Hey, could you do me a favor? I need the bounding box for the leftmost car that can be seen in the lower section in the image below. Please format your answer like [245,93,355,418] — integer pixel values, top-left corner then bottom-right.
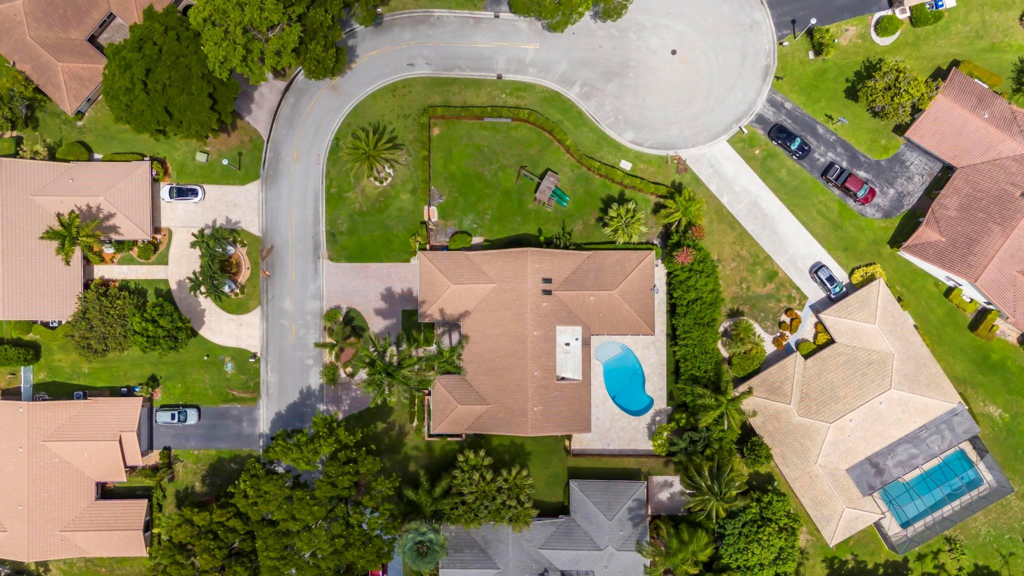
[153,405,200,427]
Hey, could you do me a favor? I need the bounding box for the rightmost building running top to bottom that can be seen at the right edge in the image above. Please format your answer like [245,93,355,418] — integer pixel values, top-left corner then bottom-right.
[896,66,1024,336]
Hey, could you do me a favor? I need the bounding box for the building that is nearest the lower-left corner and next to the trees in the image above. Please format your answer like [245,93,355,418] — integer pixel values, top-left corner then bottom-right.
[0,396,154,562]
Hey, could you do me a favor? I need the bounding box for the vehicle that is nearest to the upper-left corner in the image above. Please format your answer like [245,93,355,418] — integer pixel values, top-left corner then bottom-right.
[162,182,203,204]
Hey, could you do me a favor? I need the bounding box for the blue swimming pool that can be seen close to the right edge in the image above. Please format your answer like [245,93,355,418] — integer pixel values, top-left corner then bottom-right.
[879,447,986,530]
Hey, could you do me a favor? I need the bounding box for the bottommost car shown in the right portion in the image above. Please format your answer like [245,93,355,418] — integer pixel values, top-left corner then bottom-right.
[810,261,844,302]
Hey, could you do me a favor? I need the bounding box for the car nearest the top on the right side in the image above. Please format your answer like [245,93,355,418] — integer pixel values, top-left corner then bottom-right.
[767,123,809,159]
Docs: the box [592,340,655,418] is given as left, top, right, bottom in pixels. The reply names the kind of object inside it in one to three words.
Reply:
swimming pool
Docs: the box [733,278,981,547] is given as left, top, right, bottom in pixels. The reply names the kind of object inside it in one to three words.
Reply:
house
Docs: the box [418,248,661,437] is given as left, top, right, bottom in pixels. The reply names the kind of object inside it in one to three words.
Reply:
house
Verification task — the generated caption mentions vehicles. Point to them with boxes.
[162,182,203,204]
[370,563,389,576]
[822,163,873,203]
[810,261,844,302]
[767,123,809,159]
[153,405,200,427]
